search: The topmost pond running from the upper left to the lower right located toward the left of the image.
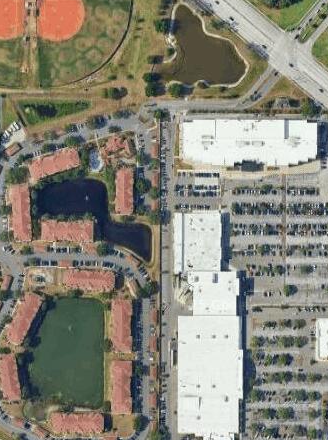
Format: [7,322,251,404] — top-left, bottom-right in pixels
[36,179,151,261]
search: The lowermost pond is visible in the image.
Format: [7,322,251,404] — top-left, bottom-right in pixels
[29,297,104,409]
